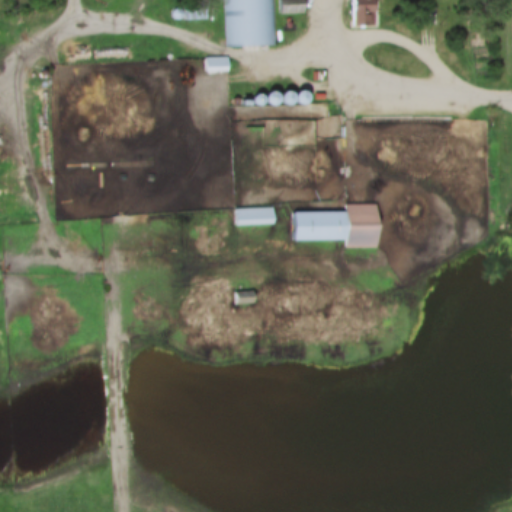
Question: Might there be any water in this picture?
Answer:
Yes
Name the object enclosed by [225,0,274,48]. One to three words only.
barn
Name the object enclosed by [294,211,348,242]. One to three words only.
shed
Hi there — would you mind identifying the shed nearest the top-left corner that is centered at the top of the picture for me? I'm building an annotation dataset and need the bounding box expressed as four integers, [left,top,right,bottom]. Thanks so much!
[203,57,230,74]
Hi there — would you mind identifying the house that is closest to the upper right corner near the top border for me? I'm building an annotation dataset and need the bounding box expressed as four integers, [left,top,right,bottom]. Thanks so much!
[350,0,381,30]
